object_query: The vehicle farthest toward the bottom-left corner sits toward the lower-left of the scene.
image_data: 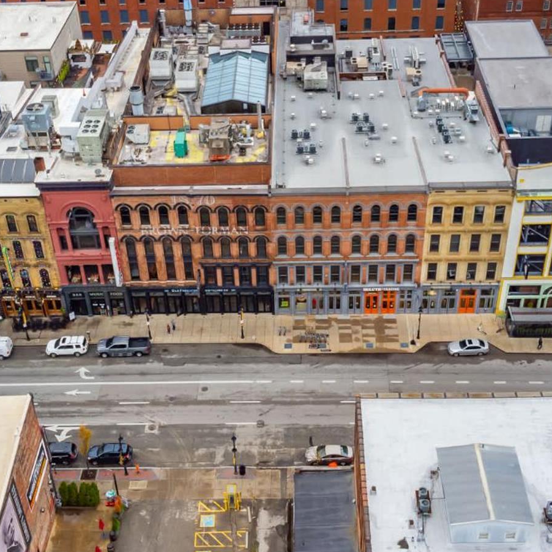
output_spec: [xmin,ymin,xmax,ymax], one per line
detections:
[48,440,80,465]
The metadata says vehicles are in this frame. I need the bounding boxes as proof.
[48,440,80,465]
[87,442,135,465]
[45,334,89,354]
[95,331,152,356]
[304,443,353,465]
[446,336,489,353]
[0,335,15,359]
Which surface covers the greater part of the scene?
buildings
